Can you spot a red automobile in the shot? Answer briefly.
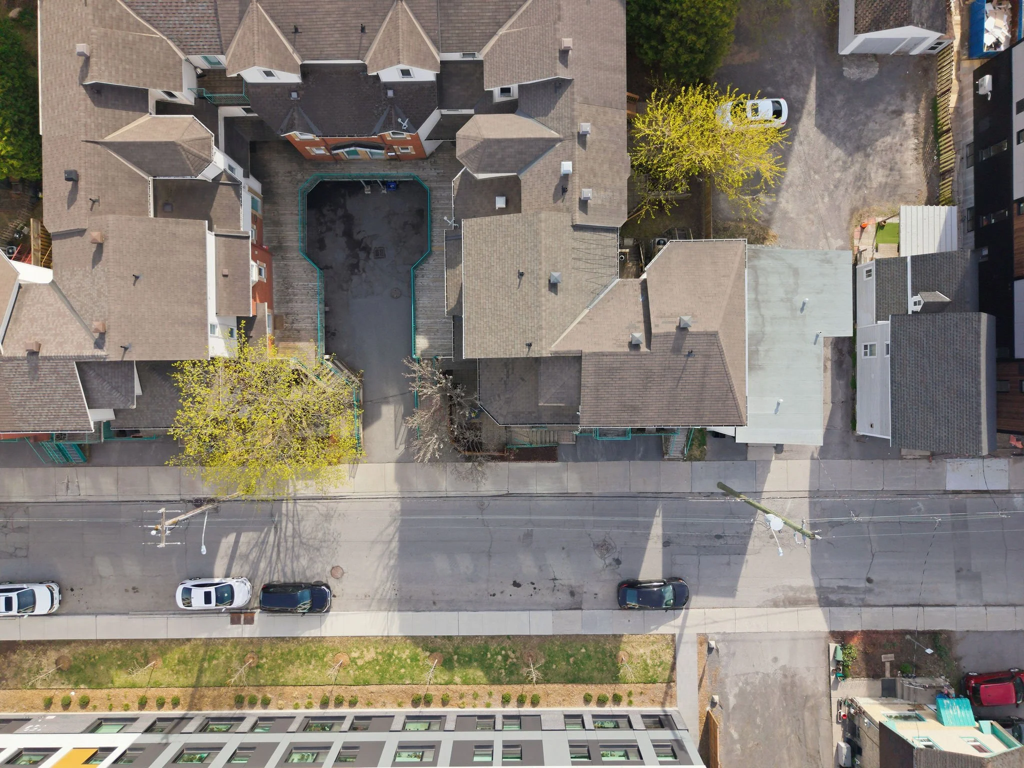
Yes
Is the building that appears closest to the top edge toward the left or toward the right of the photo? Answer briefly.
right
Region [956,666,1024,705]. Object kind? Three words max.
car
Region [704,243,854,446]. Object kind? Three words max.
building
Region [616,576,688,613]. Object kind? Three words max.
car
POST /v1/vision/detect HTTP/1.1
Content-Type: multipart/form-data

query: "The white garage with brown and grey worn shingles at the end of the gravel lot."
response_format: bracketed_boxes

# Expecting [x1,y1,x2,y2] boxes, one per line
[839,0,957,55]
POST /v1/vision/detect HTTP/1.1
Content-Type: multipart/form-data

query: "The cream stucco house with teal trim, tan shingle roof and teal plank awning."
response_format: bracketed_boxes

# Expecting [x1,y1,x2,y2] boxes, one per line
[856,697,1024,768]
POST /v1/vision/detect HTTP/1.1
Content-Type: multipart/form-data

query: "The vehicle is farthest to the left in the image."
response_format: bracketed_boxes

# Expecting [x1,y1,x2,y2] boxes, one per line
[0,580,66,619]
